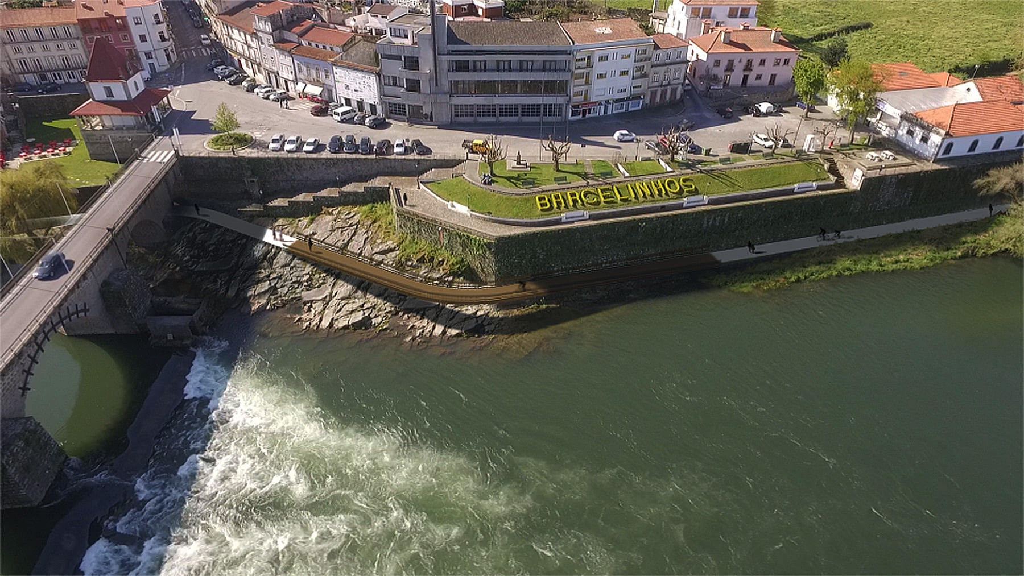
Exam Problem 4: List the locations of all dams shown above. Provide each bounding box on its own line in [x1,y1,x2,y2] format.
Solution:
[40,344,200,576]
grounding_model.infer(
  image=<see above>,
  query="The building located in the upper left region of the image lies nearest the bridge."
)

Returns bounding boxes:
[68,37,171,160]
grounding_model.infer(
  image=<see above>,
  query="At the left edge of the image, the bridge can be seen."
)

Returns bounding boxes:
[0,139,192,546]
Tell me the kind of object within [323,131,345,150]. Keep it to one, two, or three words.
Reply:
car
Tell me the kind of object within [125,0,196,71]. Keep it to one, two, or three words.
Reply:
house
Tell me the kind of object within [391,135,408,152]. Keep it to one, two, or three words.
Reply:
car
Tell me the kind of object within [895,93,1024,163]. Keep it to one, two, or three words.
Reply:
building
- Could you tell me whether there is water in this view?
Yes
